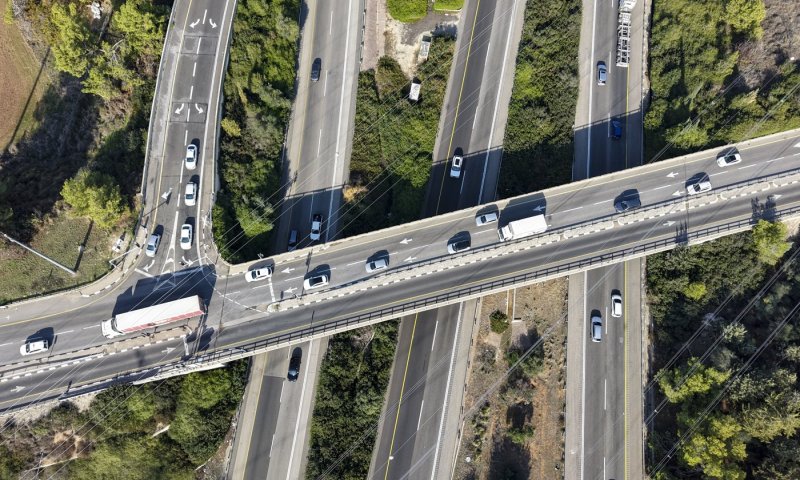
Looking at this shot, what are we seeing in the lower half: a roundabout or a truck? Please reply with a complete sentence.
The feature located in the lower half is a truck.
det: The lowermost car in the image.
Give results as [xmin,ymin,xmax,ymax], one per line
[288,356,301,382]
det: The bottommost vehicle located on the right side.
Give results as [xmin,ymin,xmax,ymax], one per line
[591,317,603,343]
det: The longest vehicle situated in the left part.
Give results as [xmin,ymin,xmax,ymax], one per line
[101,299,208,339]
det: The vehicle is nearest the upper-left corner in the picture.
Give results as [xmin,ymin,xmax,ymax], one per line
[184,144,198,170]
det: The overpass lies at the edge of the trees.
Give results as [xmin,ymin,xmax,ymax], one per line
[209,127,800,363]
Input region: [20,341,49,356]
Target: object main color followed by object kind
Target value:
white car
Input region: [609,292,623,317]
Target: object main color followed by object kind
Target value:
white vehicle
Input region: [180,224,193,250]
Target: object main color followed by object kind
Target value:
white vehicle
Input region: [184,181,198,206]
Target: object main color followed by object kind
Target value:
white car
